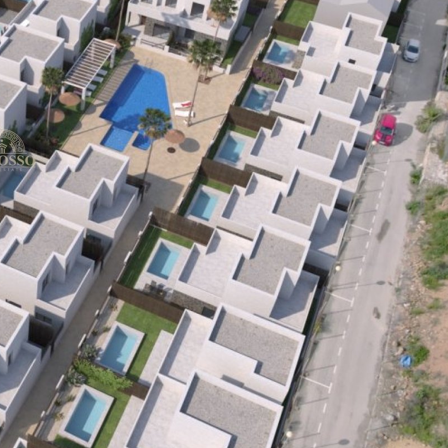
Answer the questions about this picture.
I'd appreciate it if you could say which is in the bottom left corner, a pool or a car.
pool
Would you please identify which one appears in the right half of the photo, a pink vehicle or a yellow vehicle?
pink vehicle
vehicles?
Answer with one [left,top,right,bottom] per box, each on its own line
[401,36,422,62]
[376,113,396,144]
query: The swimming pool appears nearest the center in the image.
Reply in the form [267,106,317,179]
[185,186,225,226]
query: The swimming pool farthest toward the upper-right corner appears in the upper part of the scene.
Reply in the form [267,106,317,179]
[262,45,290,65]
